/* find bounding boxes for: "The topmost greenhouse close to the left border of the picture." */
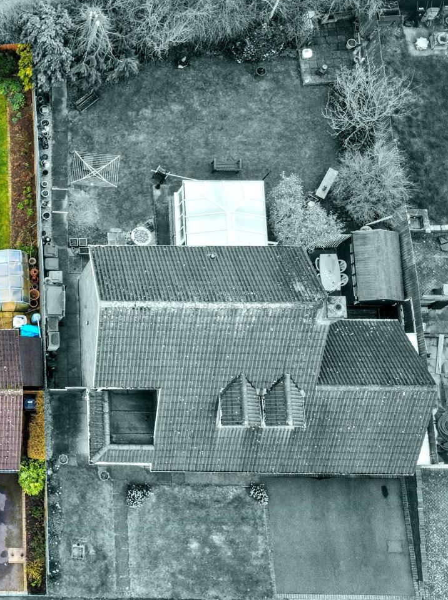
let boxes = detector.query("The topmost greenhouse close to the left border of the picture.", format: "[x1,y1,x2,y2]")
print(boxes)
[0,249,31,307]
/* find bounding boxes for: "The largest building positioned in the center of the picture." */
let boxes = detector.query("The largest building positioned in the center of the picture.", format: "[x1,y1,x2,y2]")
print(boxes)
[64,252,440,476]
